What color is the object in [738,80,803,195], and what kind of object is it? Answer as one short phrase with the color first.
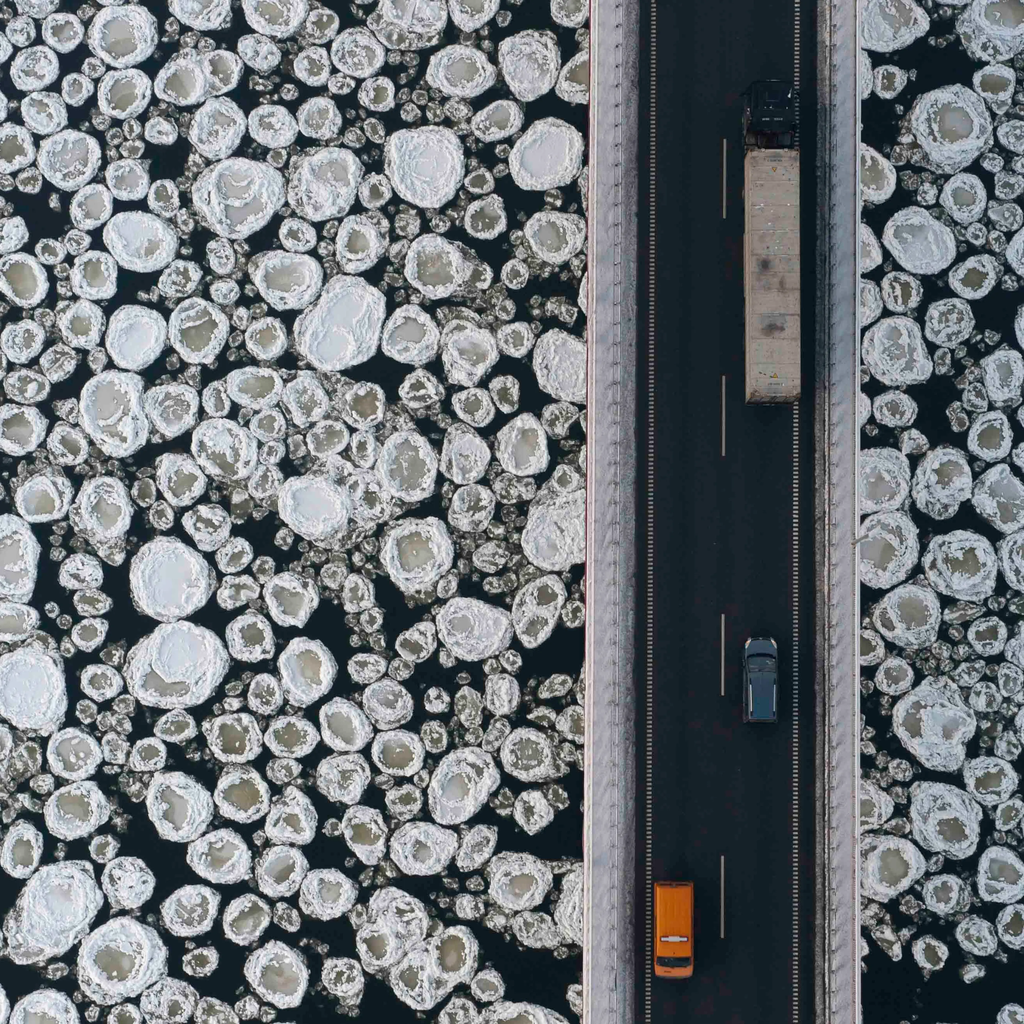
black truck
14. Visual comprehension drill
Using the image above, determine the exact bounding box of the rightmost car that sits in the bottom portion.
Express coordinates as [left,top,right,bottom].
[742,637,783,723]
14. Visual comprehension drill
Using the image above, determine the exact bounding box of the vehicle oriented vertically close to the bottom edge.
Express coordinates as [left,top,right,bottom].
[651,879,698,978]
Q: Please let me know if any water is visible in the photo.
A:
Yes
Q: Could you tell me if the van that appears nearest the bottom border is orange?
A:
Yes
